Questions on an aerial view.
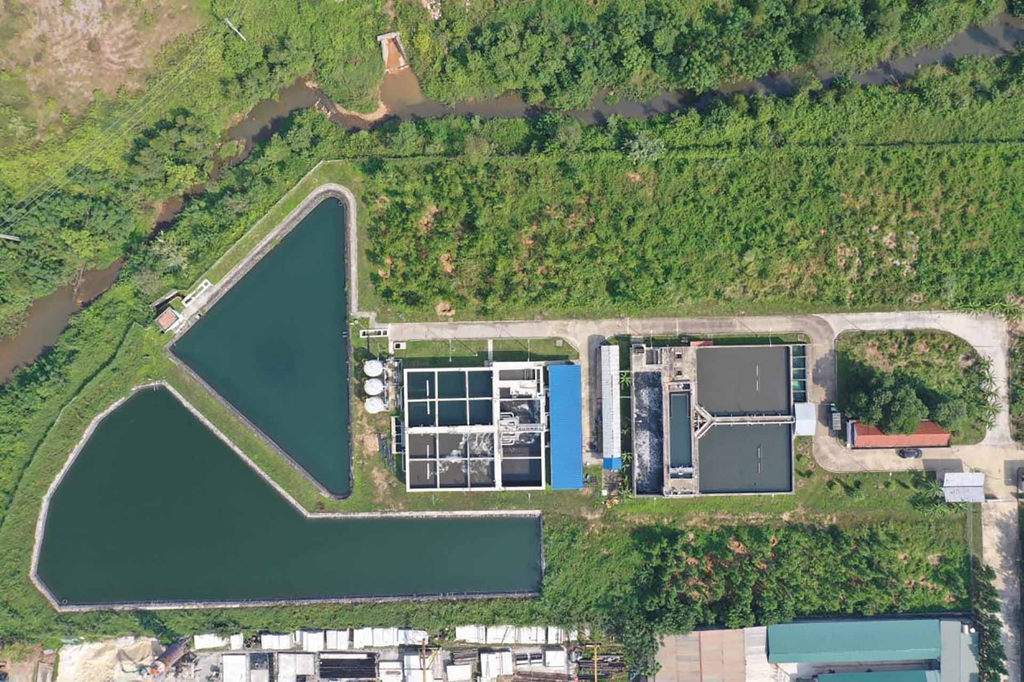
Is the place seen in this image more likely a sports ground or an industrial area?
industrial area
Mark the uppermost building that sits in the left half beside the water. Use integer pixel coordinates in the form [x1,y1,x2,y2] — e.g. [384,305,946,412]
[155,307,187,331]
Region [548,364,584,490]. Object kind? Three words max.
shed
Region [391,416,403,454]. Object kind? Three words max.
water tank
